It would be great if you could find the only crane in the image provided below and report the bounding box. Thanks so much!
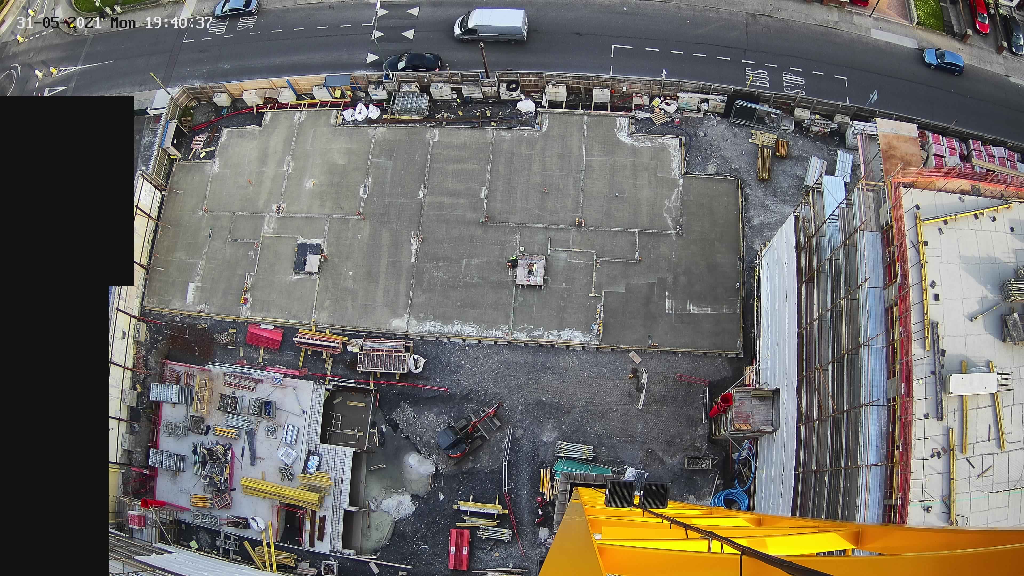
[538,491,1024,576]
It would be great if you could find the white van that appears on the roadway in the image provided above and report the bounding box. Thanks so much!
[455,8,528,45]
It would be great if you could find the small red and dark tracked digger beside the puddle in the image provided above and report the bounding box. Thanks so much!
[431,399,503,465]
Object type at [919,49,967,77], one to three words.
car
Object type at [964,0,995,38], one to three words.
car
